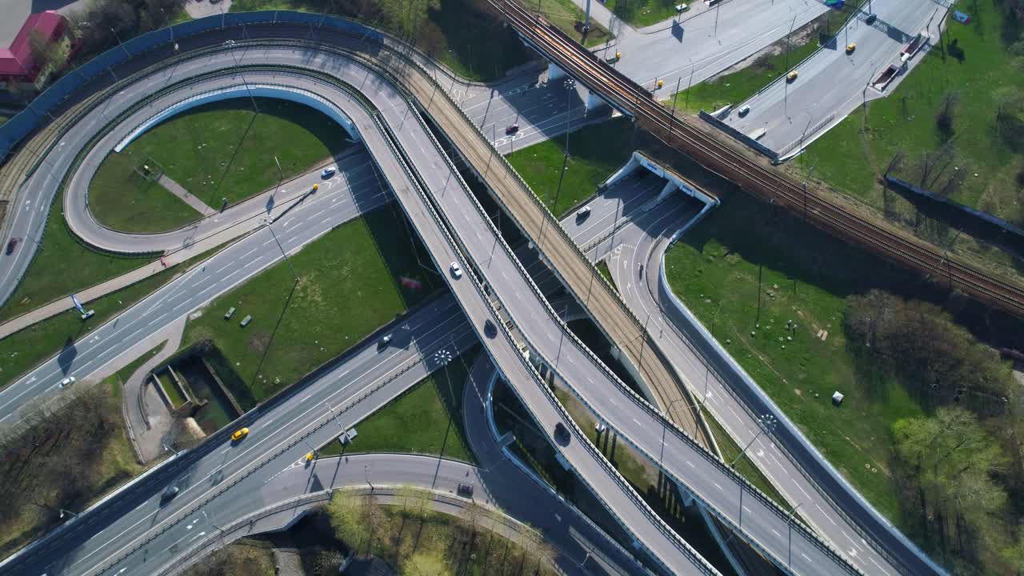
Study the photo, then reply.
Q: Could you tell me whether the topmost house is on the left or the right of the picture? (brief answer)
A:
left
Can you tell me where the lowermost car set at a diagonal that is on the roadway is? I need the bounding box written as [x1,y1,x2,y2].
[158,484,180,502]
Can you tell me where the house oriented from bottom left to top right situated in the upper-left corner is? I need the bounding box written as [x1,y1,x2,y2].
[0,10,73,85]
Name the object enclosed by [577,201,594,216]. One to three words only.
vehicle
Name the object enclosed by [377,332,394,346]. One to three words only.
car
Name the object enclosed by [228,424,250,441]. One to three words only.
car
